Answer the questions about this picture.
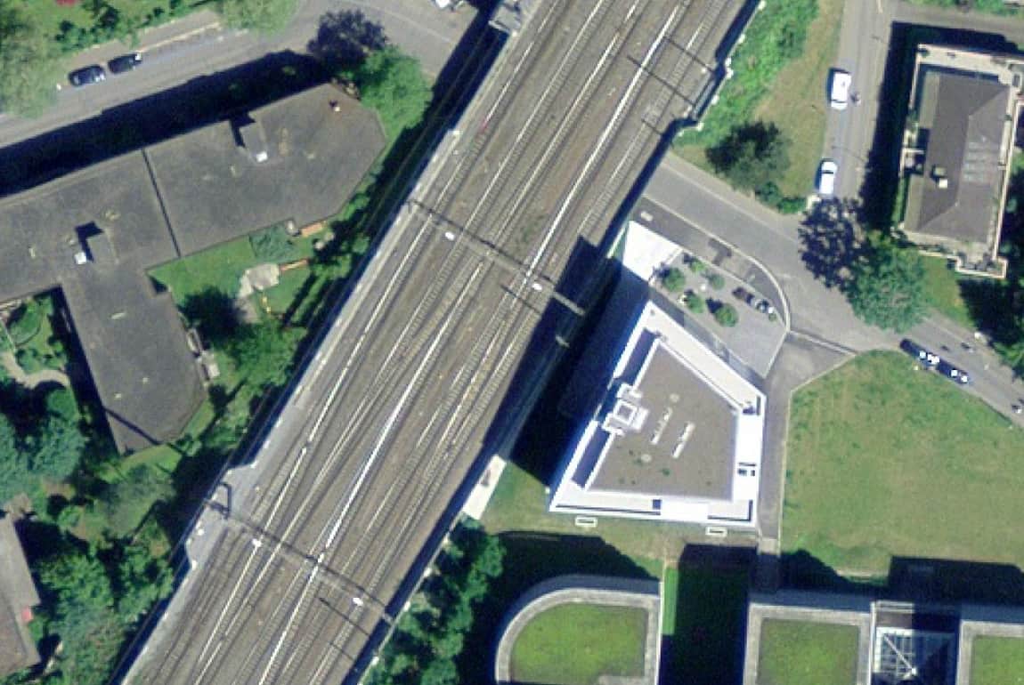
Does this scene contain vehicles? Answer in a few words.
Yes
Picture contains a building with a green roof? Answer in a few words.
Yes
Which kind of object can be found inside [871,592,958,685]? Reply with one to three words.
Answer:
building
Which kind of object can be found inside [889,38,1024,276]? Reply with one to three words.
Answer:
house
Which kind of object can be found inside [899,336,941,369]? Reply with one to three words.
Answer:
car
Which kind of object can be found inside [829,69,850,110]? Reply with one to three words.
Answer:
vehicle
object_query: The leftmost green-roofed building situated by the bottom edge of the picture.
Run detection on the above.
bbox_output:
[488,565,661,685]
